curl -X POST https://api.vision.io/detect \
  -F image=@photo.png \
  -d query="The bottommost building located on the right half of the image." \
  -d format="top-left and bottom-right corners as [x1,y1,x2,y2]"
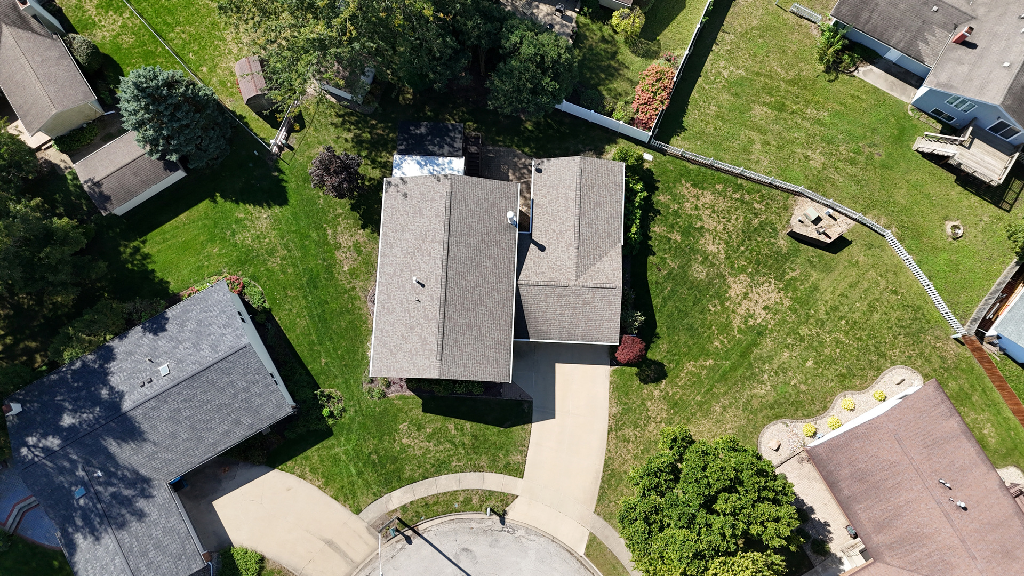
[799,378,1024,576]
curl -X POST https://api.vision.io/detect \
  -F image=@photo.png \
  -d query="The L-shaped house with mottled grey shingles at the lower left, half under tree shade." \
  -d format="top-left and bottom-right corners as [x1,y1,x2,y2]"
[0,277,296,576]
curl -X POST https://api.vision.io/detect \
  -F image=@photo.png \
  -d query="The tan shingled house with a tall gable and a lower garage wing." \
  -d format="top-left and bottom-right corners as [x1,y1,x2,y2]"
[366,157,628,383]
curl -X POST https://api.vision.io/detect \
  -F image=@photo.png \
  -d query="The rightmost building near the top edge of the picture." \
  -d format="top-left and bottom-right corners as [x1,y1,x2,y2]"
[829,0,1024,161]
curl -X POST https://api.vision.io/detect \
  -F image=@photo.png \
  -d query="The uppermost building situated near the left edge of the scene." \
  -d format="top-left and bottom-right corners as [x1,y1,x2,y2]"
[0,0,119,140]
